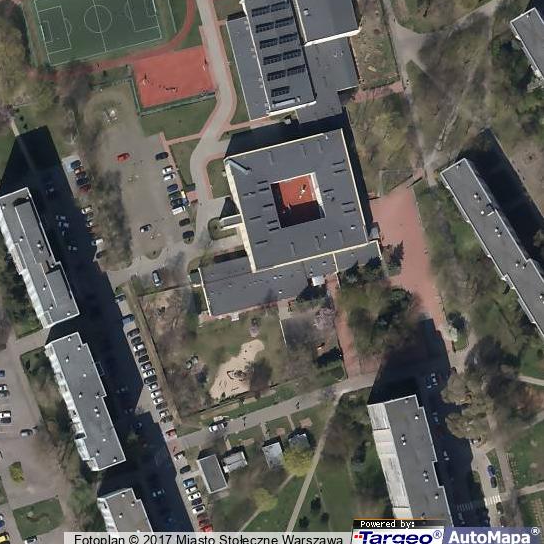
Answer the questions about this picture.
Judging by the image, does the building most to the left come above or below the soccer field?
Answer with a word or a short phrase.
below it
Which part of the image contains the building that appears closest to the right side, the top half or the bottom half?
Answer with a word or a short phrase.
top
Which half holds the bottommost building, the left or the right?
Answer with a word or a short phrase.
left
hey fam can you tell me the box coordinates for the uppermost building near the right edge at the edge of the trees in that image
[500,7,544,103]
